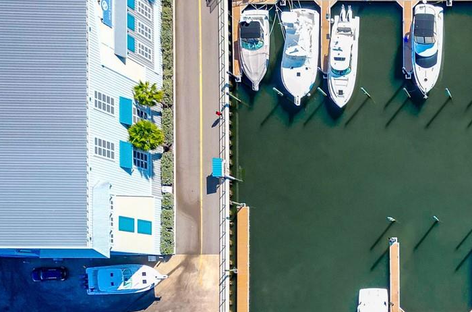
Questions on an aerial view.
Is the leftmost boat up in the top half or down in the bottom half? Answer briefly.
bottom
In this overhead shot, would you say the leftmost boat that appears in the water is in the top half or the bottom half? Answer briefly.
top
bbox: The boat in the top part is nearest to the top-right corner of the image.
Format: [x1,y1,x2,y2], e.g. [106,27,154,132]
[411,2,445,100]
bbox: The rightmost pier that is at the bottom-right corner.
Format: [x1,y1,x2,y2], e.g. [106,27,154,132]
[390,241,406,312]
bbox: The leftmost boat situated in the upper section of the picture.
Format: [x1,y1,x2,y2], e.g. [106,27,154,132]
[240,7,272,90]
